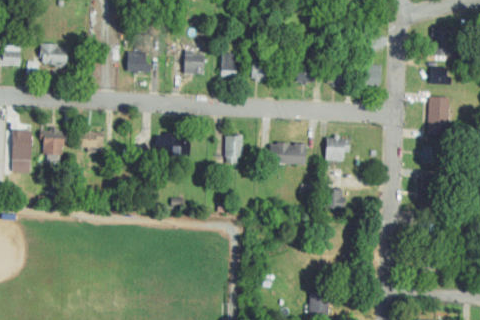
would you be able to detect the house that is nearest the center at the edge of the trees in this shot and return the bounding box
[224,135,243,164]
